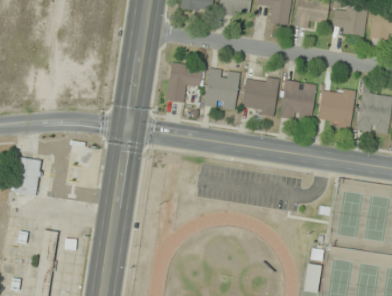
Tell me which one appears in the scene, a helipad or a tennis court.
tennis court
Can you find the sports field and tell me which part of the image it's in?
bottom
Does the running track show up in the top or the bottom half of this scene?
bottom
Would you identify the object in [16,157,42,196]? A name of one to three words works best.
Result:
building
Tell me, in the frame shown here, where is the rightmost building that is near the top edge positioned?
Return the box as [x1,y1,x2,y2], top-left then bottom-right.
[370,14,392,44]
